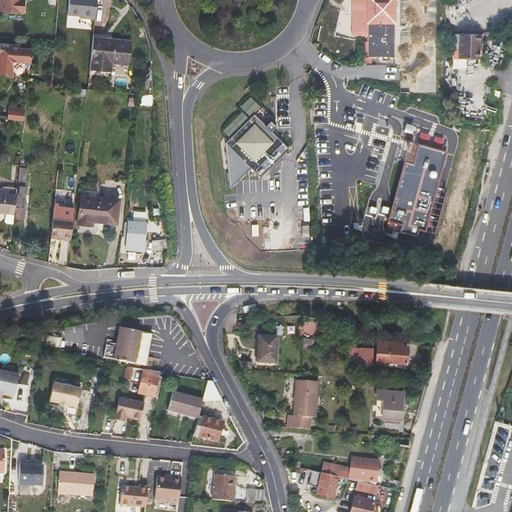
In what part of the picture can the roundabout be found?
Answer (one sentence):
You can find the roundabout in the top area of the picture.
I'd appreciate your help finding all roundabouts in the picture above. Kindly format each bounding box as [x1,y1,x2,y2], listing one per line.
[152,0,324,78]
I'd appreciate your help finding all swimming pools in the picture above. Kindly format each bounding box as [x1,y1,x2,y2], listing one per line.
[114,77,128,87]
[0,353,11,364]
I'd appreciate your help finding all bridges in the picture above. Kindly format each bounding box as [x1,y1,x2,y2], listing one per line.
[433,284,512,316]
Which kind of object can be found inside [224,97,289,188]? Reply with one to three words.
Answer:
building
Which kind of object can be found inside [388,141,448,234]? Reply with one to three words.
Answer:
building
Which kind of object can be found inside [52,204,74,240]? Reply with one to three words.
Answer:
house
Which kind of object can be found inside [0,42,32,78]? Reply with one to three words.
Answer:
house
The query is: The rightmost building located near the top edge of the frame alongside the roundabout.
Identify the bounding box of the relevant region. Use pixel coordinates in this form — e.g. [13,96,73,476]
[352,0,398,64]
